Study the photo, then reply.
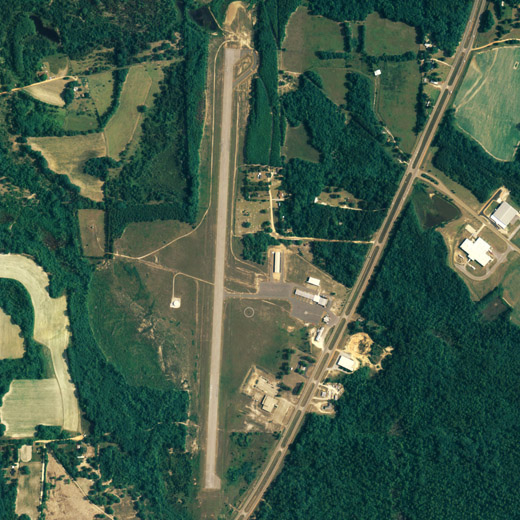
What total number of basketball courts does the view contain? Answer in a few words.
none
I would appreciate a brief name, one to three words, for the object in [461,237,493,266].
building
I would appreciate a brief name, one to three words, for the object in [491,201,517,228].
building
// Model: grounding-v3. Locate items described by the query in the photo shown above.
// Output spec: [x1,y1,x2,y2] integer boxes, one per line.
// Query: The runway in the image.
[205,48,240,489]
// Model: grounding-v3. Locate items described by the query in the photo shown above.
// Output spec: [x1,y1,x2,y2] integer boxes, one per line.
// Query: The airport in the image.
[205,48,339,489]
